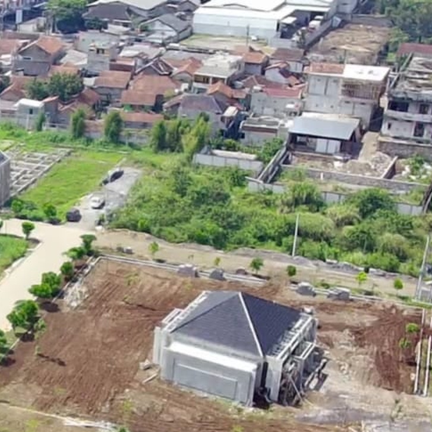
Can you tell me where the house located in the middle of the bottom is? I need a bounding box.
[153,284,328,405]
